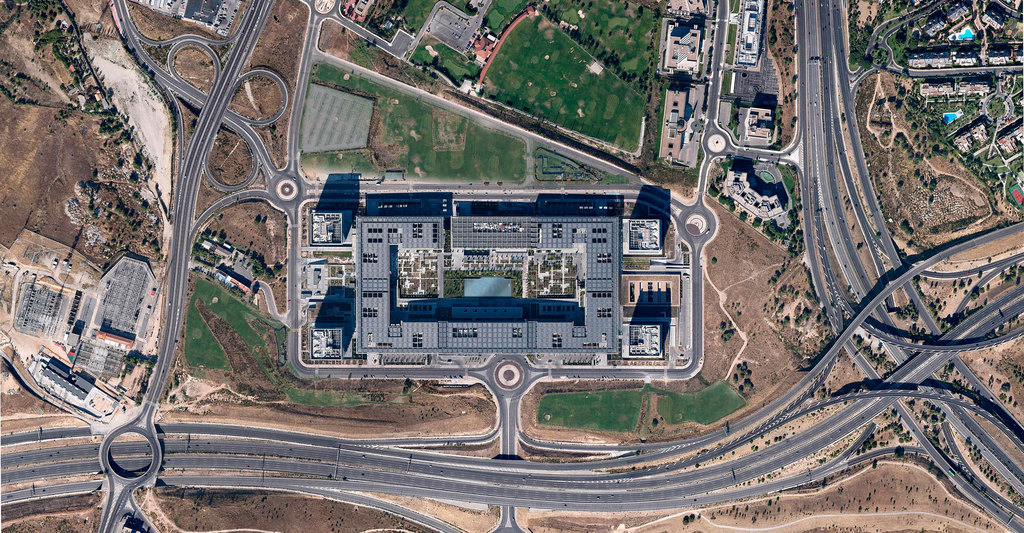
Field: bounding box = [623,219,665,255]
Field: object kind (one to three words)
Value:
building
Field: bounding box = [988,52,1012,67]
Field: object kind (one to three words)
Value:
house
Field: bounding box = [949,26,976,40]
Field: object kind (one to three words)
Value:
swimming pool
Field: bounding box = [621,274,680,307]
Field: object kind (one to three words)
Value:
building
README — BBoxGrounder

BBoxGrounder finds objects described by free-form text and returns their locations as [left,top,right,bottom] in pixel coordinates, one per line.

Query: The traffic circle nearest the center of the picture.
[484,355,533,400]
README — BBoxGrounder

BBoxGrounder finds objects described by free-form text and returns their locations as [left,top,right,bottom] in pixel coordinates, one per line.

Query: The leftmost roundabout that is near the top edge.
[304,0,345,24]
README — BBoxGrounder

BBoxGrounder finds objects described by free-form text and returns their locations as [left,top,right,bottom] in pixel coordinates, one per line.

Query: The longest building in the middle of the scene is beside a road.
[356,216,619,355]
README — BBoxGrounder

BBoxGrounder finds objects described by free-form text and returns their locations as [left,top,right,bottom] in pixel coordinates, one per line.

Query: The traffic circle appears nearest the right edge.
[980,90,1015,125]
